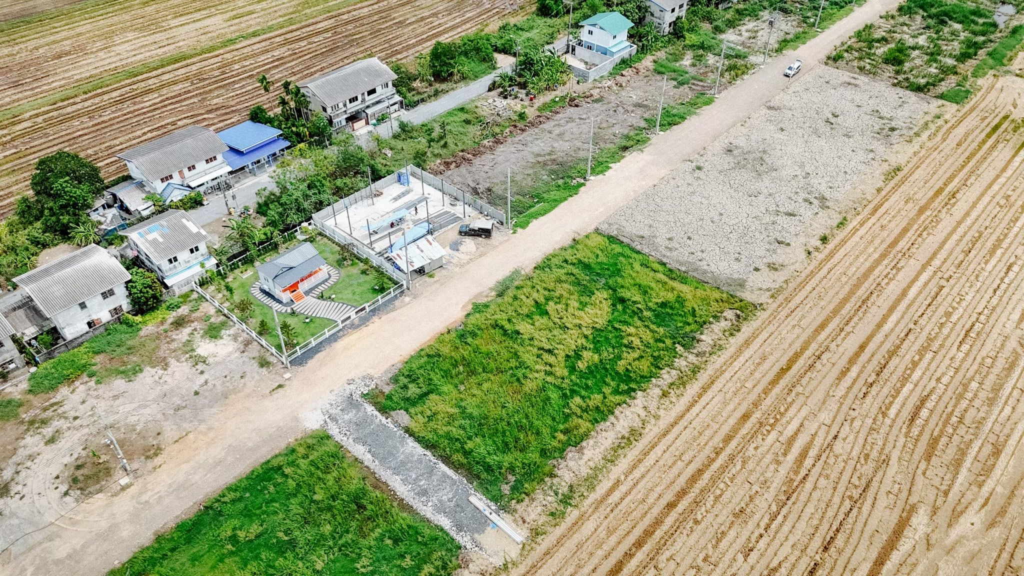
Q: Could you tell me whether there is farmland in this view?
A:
Yes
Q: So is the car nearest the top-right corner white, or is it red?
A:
white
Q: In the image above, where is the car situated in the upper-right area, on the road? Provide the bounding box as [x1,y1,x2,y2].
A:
[786,58,806,78]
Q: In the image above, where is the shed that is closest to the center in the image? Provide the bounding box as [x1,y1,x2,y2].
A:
[389,234,449,282]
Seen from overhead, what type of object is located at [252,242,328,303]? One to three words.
house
